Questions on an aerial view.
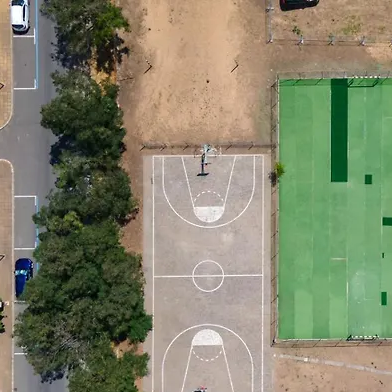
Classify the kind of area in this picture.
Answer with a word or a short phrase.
sports ground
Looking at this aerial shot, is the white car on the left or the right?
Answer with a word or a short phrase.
left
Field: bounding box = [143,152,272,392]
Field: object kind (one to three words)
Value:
basketball court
